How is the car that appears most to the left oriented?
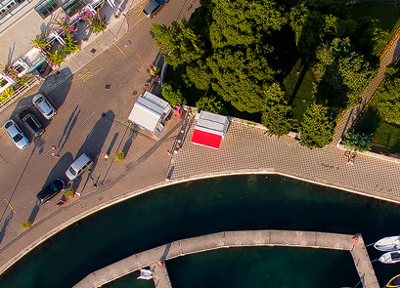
at an angle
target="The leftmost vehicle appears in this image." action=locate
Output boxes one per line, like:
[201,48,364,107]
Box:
[2,119,31,151]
